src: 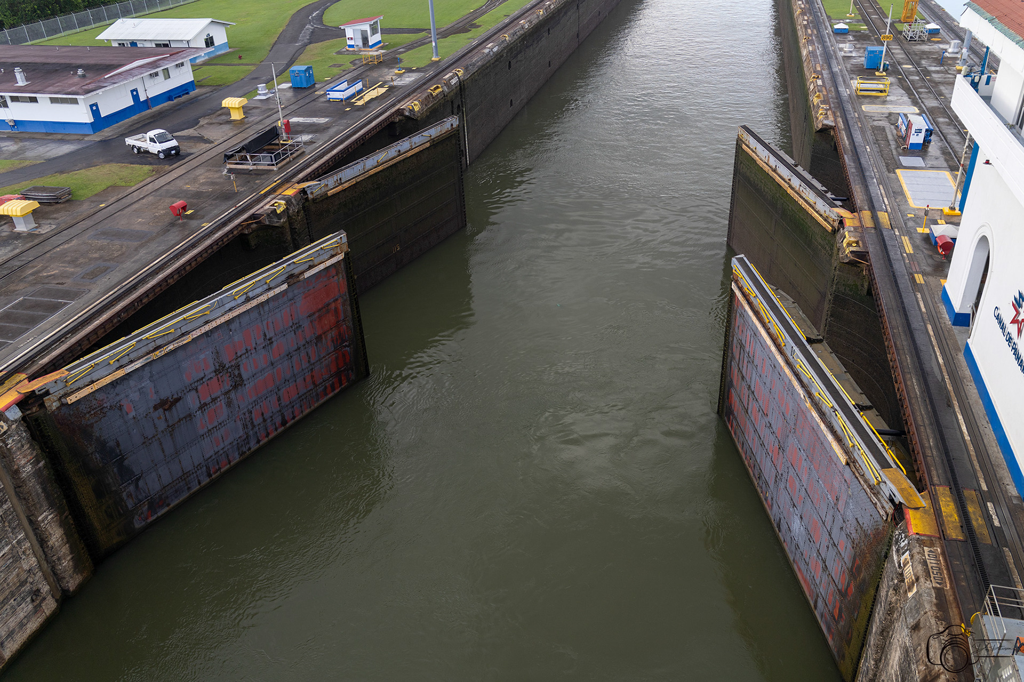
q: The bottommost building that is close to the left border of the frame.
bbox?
[0,47,212,133]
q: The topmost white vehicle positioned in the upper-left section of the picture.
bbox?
[132,130,178,157]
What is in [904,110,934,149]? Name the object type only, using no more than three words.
shed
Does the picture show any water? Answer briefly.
Yes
